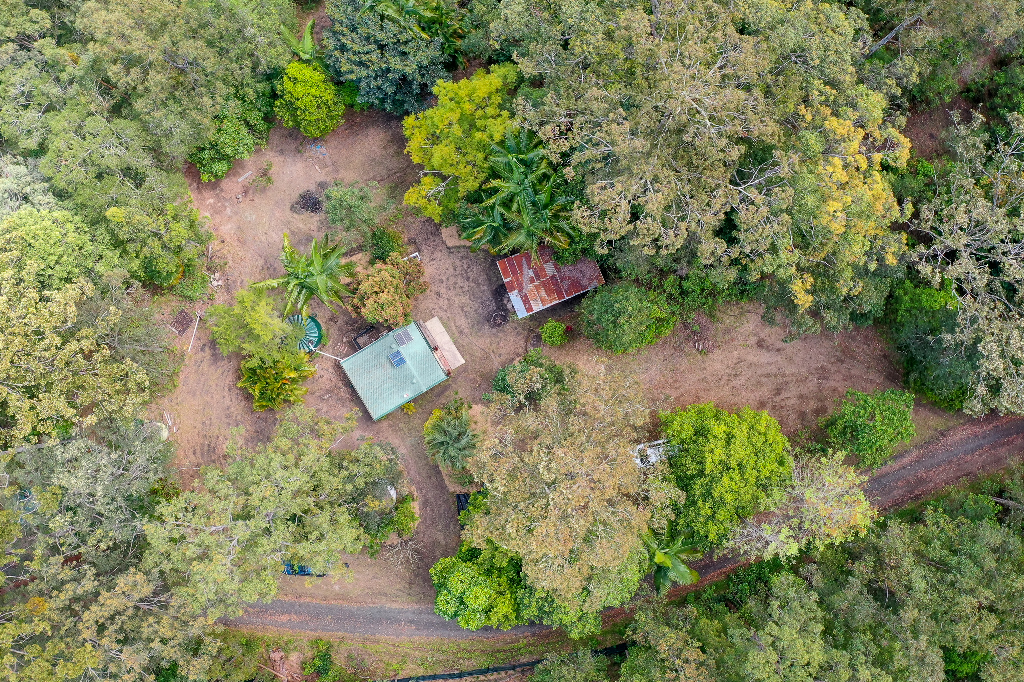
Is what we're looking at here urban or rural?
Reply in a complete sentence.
The area is rural.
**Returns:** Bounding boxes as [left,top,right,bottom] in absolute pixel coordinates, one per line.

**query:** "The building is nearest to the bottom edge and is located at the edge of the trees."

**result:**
[340,322,448,423]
